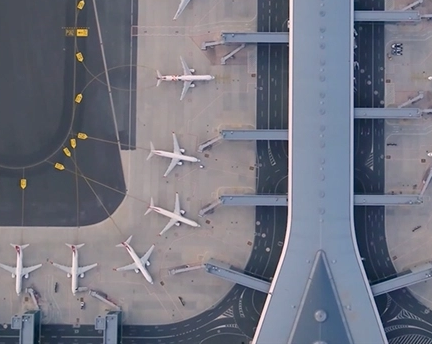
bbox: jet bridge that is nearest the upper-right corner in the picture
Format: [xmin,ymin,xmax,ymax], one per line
[354,0,432,24]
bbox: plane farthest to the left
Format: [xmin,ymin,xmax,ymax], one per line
[0,244,41,296]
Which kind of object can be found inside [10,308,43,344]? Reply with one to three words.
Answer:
building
